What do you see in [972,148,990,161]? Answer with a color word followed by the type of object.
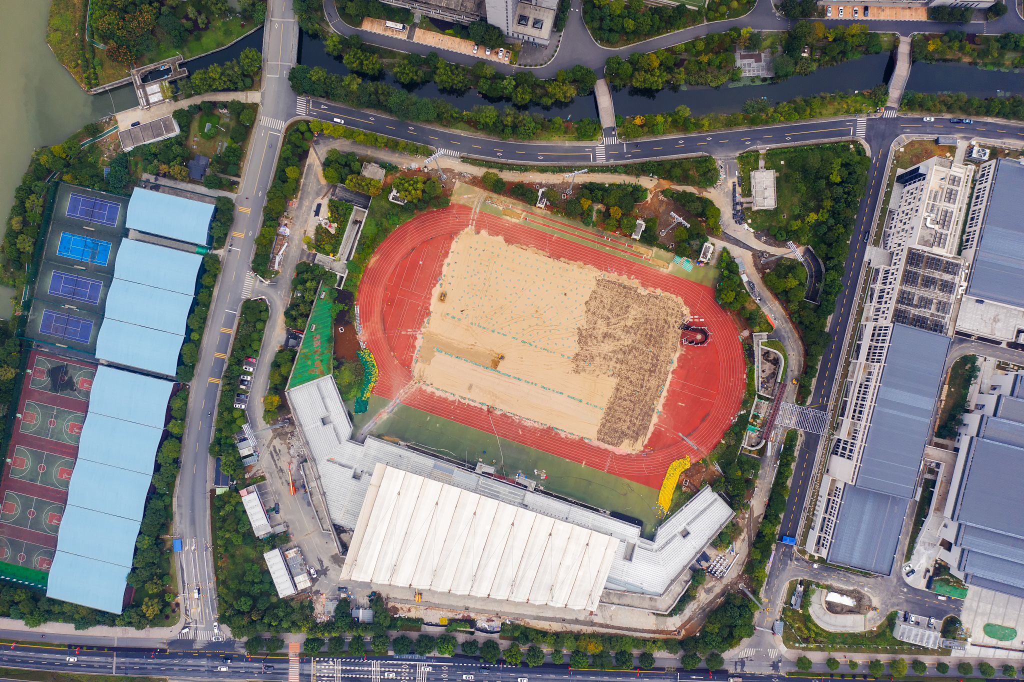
white cooling tower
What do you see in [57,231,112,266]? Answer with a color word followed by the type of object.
blue tennis court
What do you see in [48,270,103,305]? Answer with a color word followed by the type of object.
blue tennis court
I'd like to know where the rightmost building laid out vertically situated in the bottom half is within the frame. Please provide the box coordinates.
[931,373,1024,600]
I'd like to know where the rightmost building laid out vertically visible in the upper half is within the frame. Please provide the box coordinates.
[959,157,1024,309]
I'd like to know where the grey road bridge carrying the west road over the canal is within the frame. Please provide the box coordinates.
[258,0,302,66]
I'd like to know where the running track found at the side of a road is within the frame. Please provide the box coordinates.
[356,201,746,490]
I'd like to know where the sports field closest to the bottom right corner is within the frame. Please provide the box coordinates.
[411,229,689,453]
